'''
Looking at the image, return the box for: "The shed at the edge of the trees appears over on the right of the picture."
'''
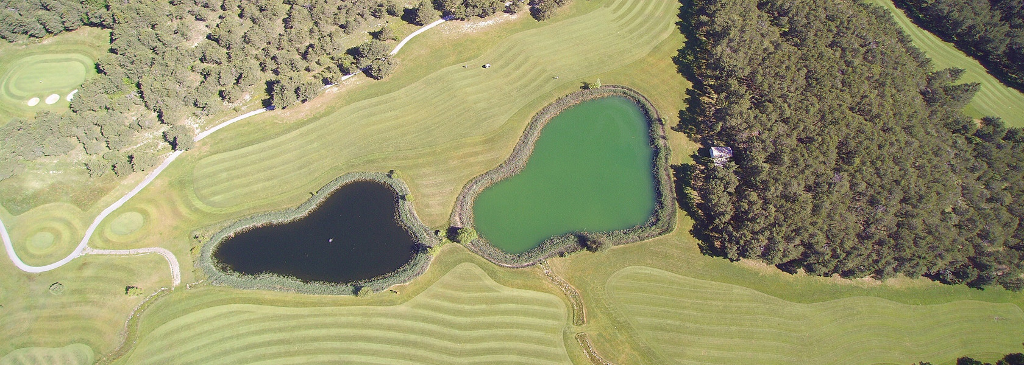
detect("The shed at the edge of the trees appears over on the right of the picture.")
[709,147,733,169]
